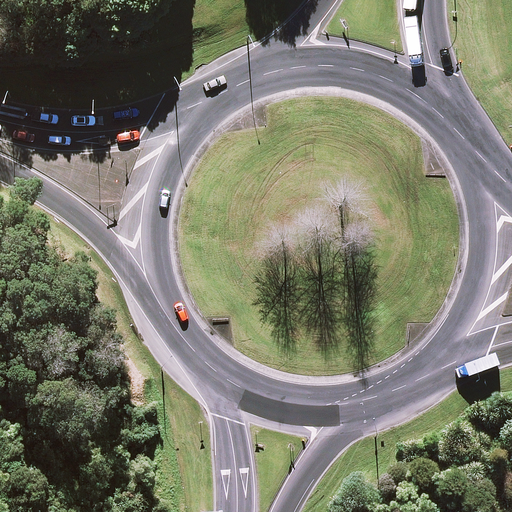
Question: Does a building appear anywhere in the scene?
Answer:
No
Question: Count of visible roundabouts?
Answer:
1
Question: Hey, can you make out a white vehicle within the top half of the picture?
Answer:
Yes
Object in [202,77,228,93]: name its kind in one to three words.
car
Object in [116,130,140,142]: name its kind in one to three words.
vehicle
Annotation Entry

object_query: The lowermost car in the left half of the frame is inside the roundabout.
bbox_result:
[174,300,188,322]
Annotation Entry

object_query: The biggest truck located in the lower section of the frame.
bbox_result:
[456,352,500,380]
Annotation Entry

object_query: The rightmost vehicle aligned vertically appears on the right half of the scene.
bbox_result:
[440,47,454,74]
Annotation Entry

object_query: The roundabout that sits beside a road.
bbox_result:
[134,46,507,421]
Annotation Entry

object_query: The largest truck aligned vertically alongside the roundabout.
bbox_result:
[403,15,424,66]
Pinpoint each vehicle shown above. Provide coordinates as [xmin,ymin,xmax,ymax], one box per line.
[403,15,424,66]
[116,130,140,142]
[456,352,500,380]
[160,188,170,209]
[404,0,418,12]
[440,47,454,74]
[38,112,61,124]
[174,300,188,322]
[12,130,35,142]
[72,115,96,126]
[202,77,228,93]
[48,135,71,146]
